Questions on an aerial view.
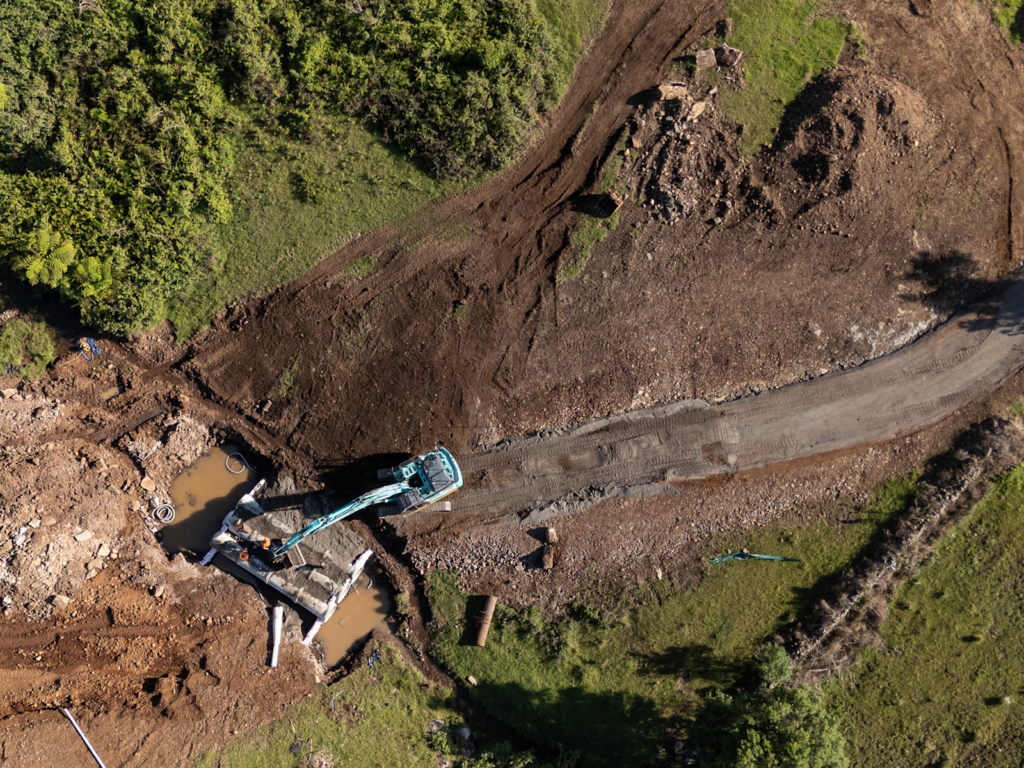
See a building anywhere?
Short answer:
No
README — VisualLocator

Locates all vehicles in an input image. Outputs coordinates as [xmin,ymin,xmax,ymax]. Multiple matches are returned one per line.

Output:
[274,447,463,570]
